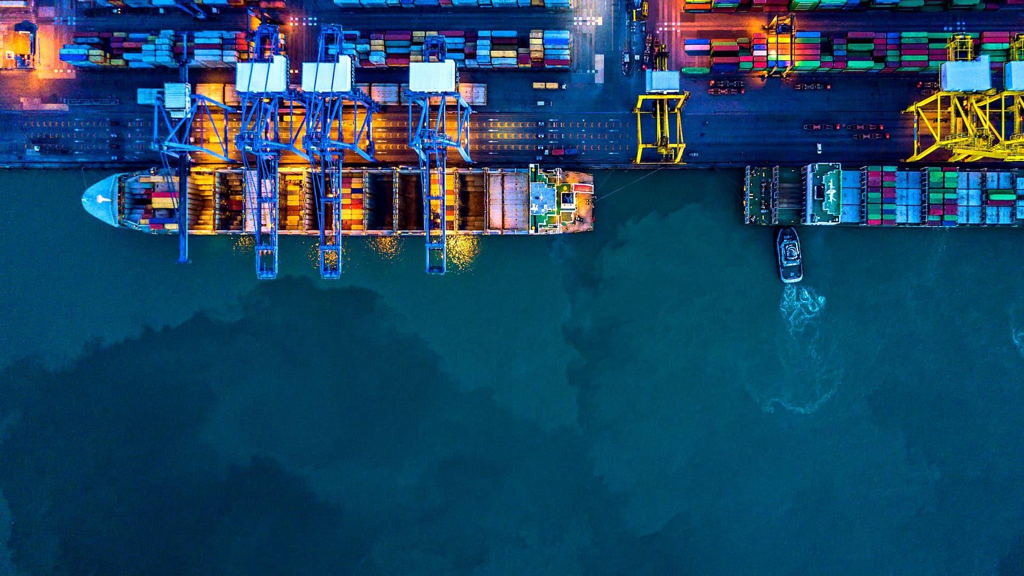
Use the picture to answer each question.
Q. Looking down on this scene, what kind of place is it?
port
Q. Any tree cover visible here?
No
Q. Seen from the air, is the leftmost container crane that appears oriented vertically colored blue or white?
blue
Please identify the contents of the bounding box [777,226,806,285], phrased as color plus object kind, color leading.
blue boat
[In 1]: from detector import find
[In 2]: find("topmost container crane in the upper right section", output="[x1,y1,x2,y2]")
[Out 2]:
[758,11,796,77]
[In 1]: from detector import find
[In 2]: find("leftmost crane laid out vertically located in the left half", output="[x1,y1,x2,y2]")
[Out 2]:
[137,32,242,262]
